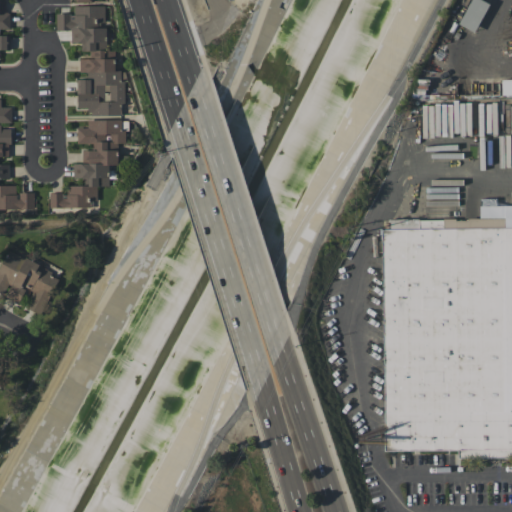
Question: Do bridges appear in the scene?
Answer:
Yes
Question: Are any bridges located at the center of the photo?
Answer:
Yes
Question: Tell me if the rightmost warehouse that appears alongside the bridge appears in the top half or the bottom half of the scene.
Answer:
bottom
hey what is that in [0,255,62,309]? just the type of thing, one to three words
house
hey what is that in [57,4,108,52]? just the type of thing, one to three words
house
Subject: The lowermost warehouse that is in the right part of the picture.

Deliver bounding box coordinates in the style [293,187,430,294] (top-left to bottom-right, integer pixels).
[384,228,512,459]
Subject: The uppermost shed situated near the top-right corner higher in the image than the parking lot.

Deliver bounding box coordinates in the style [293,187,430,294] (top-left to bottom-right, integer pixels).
[458,0,490,35]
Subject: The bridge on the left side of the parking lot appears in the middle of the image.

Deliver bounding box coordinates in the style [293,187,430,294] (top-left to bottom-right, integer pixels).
[164,58,300,420]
